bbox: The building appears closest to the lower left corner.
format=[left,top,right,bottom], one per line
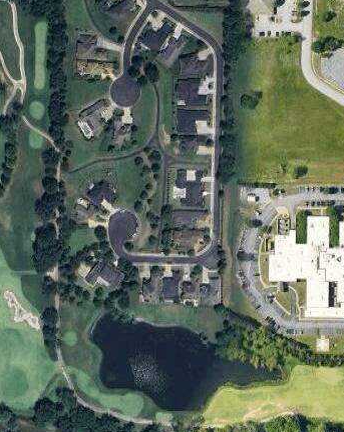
[83,261,124,287]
